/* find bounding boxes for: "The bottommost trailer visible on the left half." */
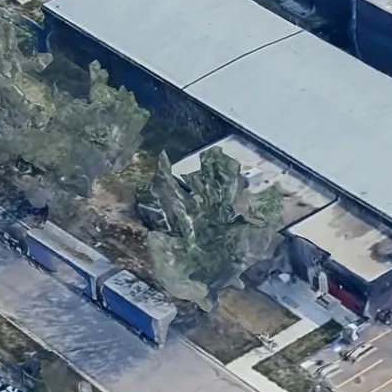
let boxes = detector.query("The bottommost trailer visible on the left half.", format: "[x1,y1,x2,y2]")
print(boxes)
[101,269,178,344]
